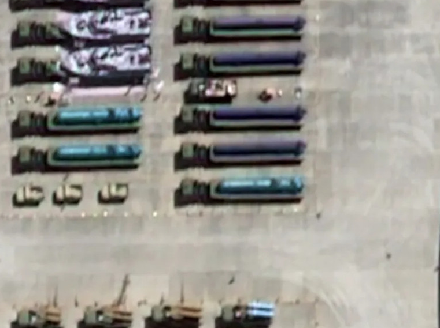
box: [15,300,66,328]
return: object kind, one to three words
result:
truck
